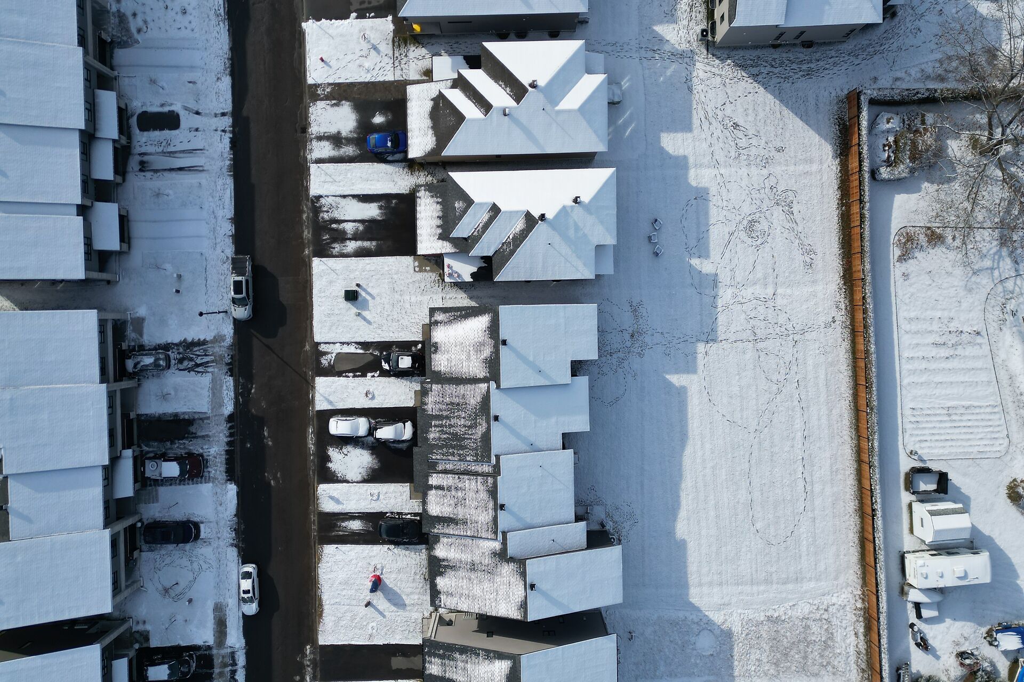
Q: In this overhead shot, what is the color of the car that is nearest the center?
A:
black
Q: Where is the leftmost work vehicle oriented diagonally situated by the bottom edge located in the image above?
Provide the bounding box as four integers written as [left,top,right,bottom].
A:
[907,621,931,649]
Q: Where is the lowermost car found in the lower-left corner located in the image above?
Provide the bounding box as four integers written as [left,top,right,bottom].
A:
[143,652,198,682]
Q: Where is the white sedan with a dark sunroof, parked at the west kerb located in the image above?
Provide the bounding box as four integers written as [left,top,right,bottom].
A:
[238,562,263,615]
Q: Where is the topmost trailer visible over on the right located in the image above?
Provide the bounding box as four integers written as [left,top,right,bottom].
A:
[905,465,950,498]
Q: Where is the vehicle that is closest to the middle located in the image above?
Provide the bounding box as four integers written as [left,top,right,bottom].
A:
[381,351,425,375]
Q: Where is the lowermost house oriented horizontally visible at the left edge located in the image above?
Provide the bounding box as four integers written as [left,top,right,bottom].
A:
[0,617,140,682]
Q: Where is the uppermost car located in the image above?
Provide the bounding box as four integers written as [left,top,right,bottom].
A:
[364,130,408,155]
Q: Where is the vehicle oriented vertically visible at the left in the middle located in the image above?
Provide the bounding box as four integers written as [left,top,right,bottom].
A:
[228,256,256,320]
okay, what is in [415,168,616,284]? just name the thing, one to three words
house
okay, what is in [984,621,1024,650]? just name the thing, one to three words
boat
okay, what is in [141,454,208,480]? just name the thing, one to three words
truck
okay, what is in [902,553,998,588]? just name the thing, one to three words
trailer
